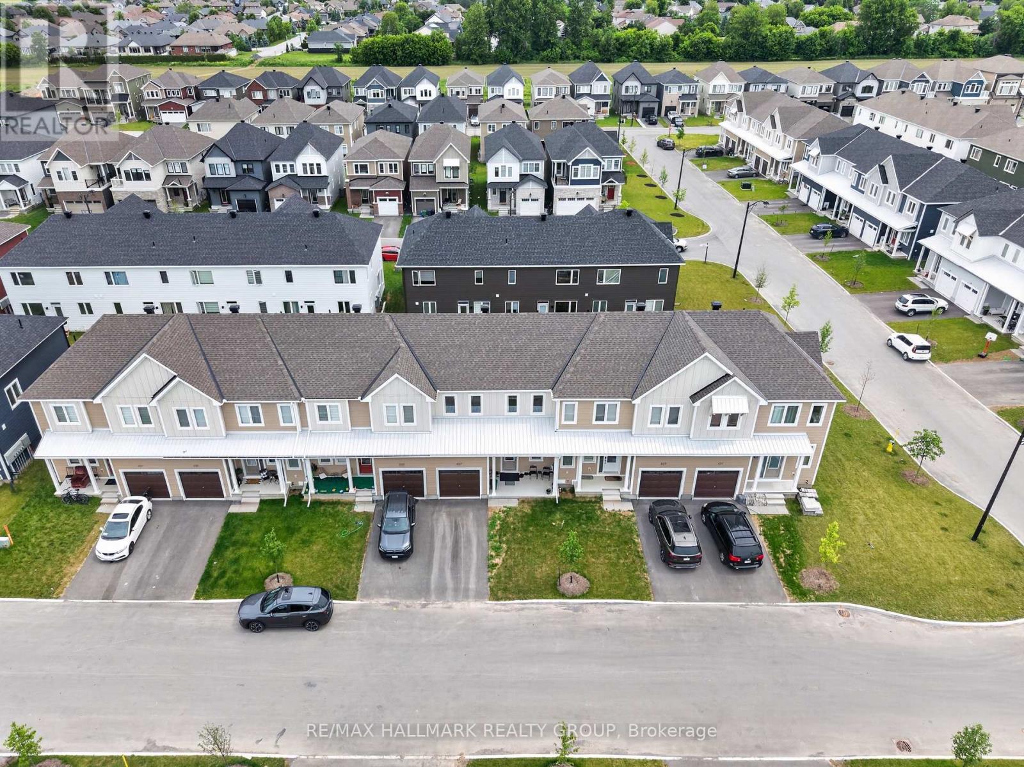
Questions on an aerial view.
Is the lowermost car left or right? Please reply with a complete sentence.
The lowermost car sits on the left side.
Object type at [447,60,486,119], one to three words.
house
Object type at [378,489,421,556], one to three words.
car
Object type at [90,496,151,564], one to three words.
car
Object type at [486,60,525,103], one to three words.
house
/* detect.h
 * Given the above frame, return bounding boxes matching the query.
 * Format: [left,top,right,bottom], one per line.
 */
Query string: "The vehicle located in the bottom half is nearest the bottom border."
[237,583,338,632]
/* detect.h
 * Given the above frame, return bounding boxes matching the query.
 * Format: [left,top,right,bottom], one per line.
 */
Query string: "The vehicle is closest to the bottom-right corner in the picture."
[701,501,766,571]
